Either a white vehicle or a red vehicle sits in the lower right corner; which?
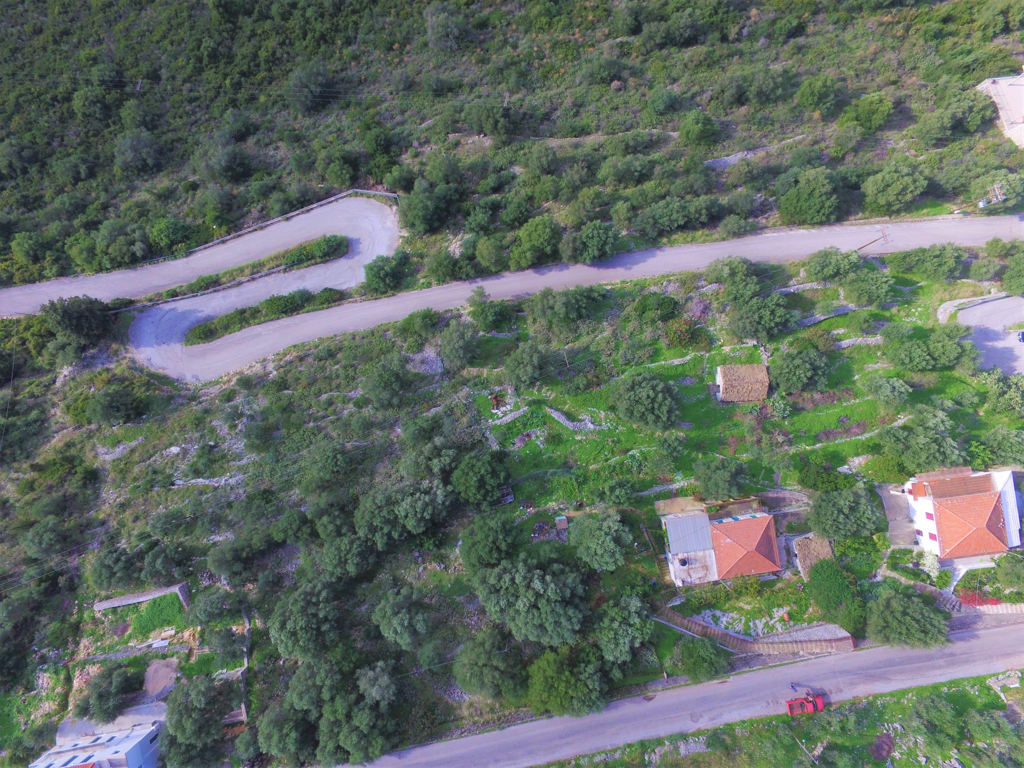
red vehicle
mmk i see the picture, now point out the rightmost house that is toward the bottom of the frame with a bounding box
[902,467,1021,562]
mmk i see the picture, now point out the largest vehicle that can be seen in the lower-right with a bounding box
[784,691,824,716]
